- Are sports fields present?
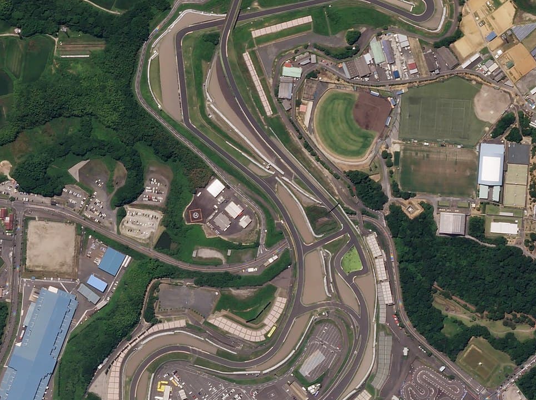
Yes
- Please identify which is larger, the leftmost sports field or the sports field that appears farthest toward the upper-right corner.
the leftmost sports field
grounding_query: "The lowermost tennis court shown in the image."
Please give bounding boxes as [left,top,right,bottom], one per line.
[505,185,527,206]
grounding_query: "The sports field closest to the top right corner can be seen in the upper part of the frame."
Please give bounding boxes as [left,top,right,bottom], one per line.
[474,85,512,123]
